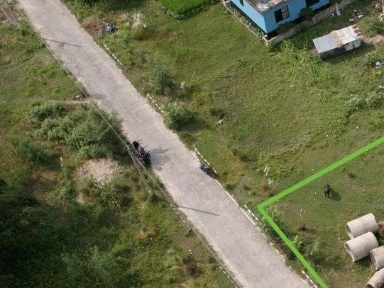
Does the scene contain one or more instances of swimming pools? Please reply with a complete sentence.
No, I can see no swimming pool in this picture.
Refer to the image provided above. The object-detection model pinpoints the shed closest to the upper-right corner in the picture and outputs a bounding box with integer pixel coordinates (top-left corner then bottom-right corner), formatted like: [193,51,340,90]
[313,24,362,59]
